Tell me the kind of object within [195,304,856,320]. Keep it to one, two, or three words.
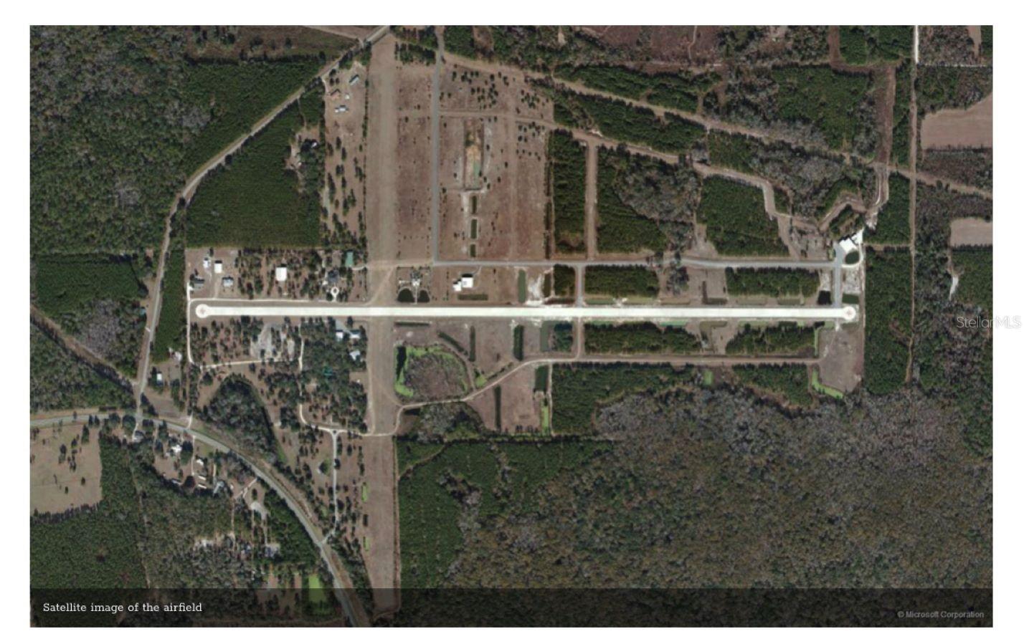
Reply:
runway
